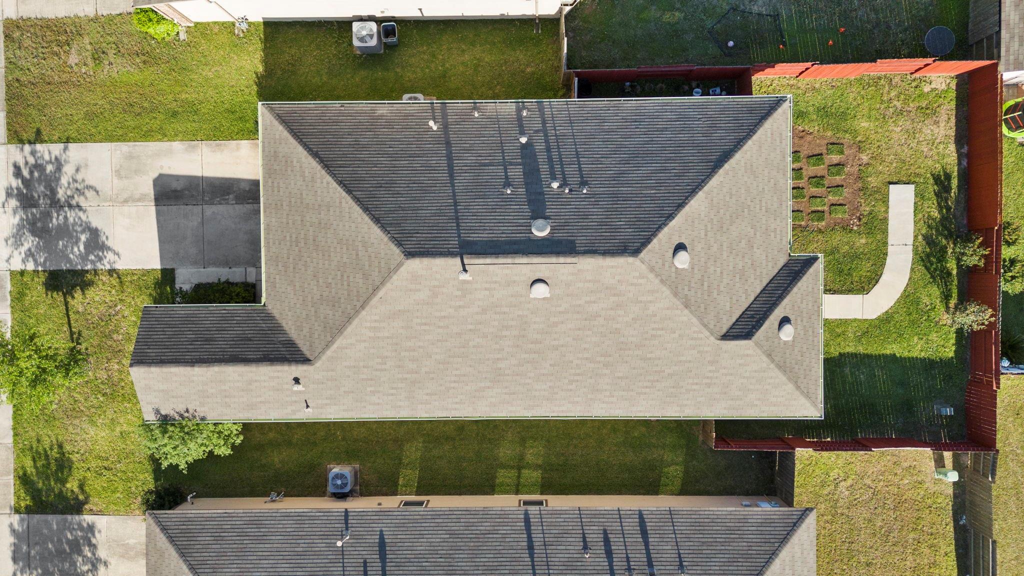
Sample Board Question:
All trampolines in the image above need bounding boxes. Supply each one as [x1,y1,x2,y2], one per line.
[922,26,955,57]
[1002,97,1024,141]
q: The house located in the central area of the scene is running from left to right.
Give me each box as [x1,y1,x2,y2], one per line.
[129,93,825,423]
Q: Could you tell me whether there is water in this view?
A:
No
